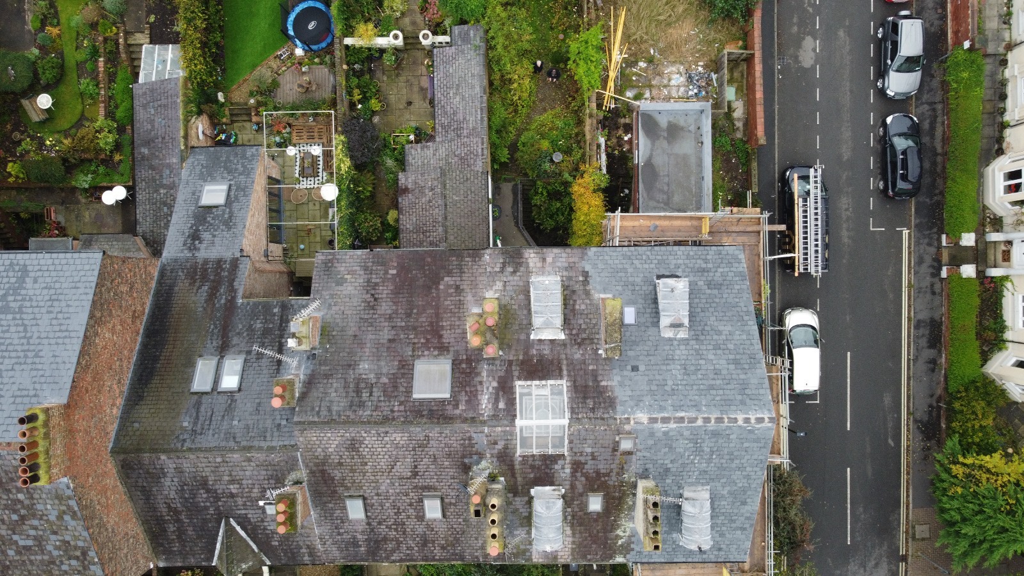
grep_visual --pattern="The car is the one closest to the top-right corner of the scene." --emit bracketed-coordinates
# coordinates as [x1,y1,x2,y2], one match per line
[877,11,928,99]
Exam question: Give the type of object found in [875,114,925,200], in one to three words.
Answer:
car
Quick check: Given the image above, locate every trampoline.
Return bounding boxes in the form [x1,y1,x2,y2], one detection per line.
[277,0,330,55]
